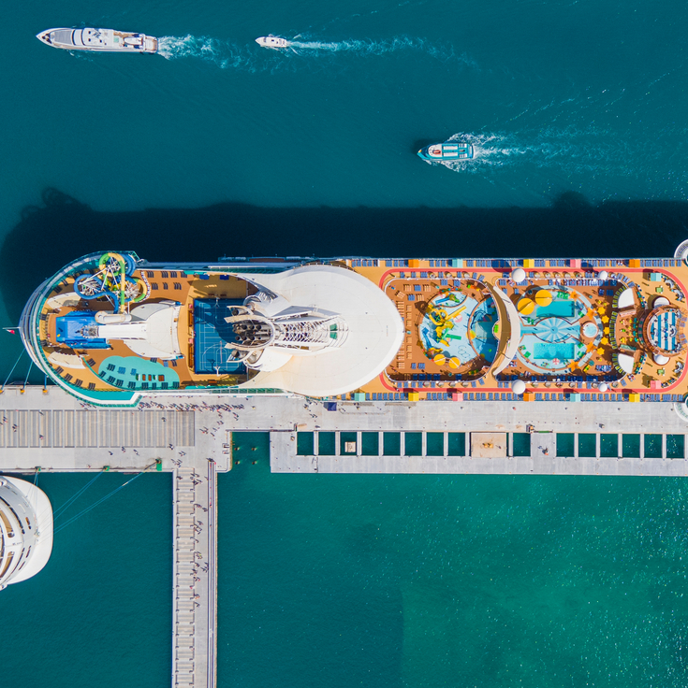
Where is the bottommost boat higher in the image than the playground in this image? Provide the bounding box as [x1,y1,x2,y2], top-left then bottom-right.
[417,142,474,161]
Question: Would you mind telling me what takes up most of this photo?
water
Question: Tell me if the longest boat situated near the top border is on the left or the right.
left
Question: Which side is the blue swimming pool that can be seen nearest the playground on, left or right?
right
